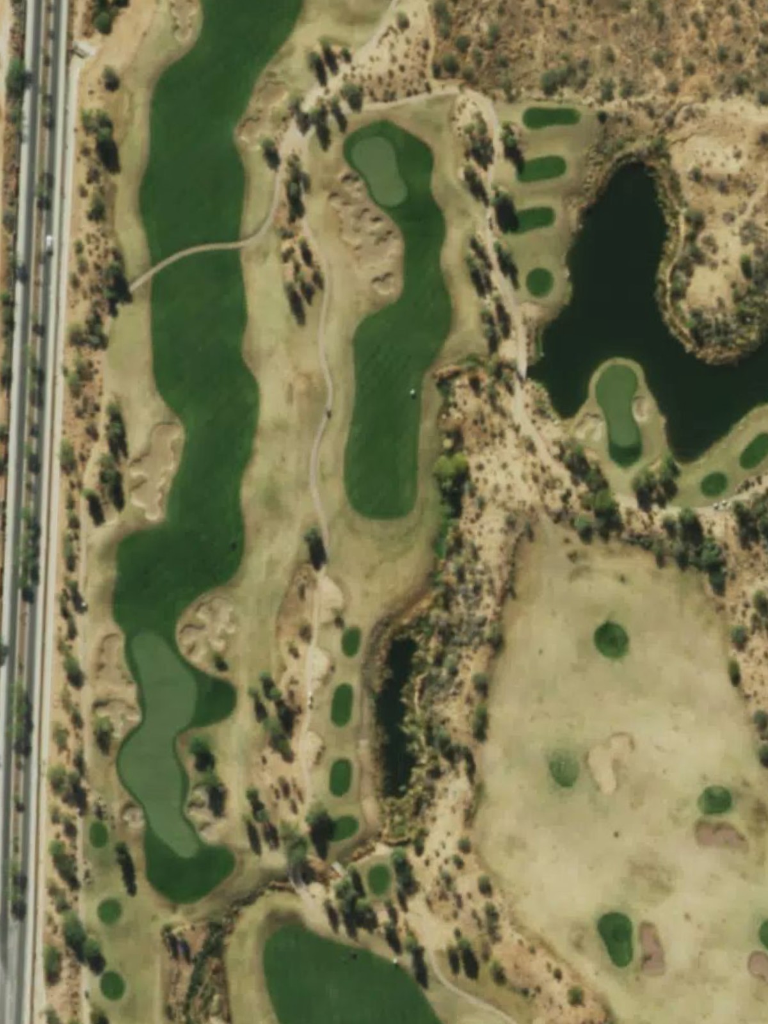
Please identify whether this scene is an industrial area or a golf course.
golf course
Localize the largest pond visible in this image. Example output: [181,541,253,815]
[375,634,417,798]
